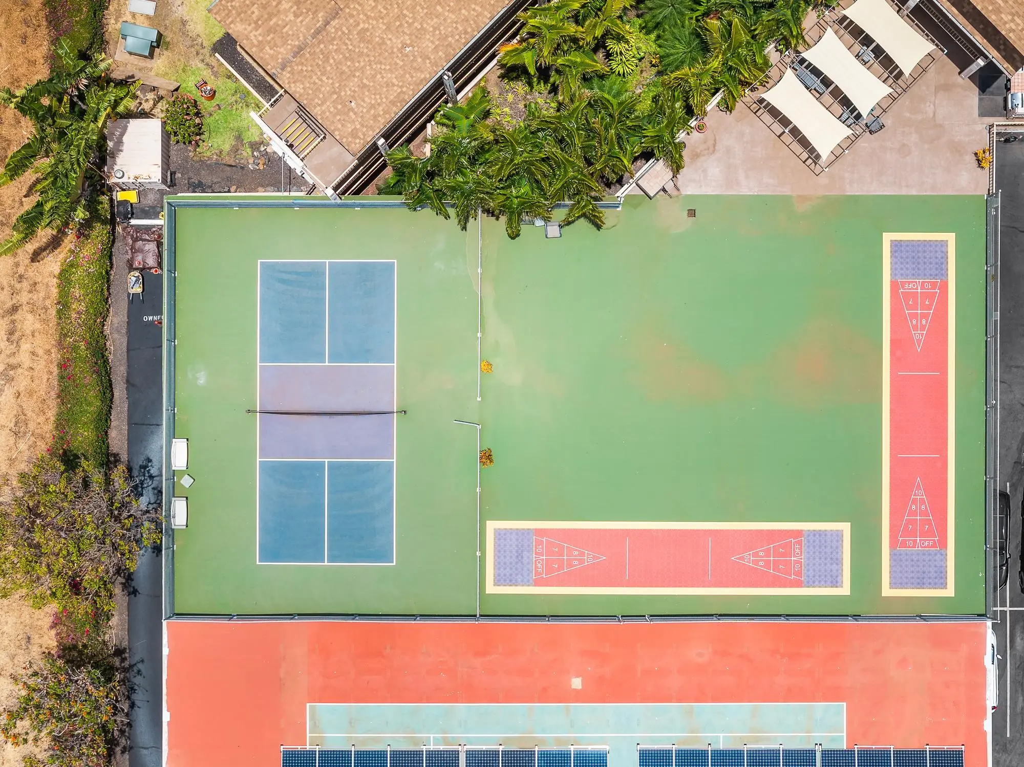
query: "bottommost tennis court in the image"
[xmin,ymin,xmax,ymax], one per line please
[164,619,992,767]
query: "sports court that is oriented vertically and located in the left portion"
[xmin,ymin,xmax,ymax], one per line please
[257,260,397,565]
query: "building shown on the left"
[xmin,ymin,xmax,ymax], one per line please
[214,0,555,195]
